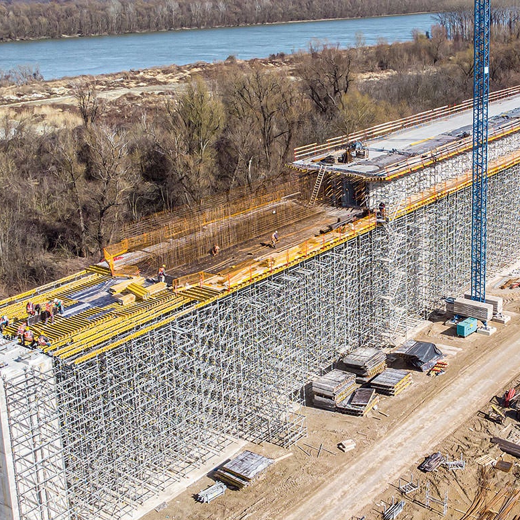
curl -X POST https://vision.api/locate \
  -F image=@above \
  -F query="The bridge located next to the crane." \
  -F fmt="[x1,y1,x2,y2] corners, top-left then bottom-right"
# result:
[303,92,520,209]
